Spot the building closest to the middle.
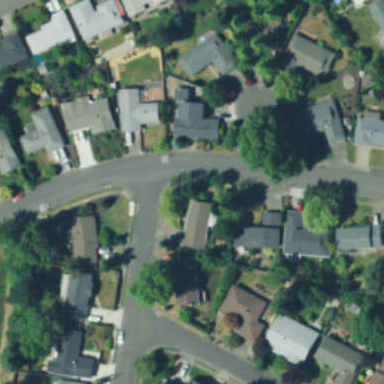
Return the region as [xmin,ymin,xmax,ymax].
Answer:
[183,199,209,250]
